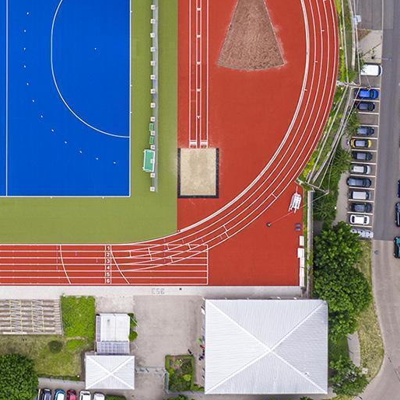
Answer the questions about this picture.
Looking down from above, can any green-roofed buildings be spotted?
No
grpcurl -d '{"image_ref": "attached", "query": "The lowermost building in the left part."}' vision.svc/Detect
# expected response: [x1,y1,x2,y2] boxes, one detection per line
[84,354,136,391]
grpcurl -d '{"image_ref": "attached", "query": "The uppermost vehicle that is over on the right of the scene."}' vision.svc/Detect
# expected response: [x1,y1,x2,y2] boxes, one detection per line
[357,64,384,77]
